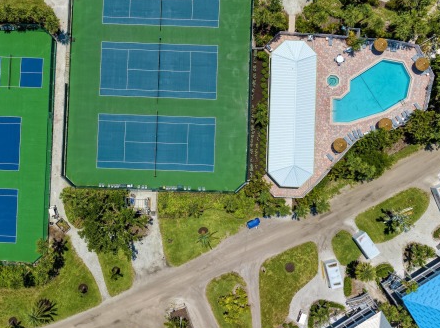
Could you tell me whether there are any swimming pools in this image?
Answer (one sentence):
Yes, I can see a swimming pool in this picture.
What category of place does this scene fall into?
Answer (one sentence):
The picture captures a sports ground.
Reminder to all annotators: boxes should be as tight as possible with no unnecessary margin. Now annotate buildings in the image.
[316,282,392,328]
[266,40,317,188]
[375,239,440,328]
